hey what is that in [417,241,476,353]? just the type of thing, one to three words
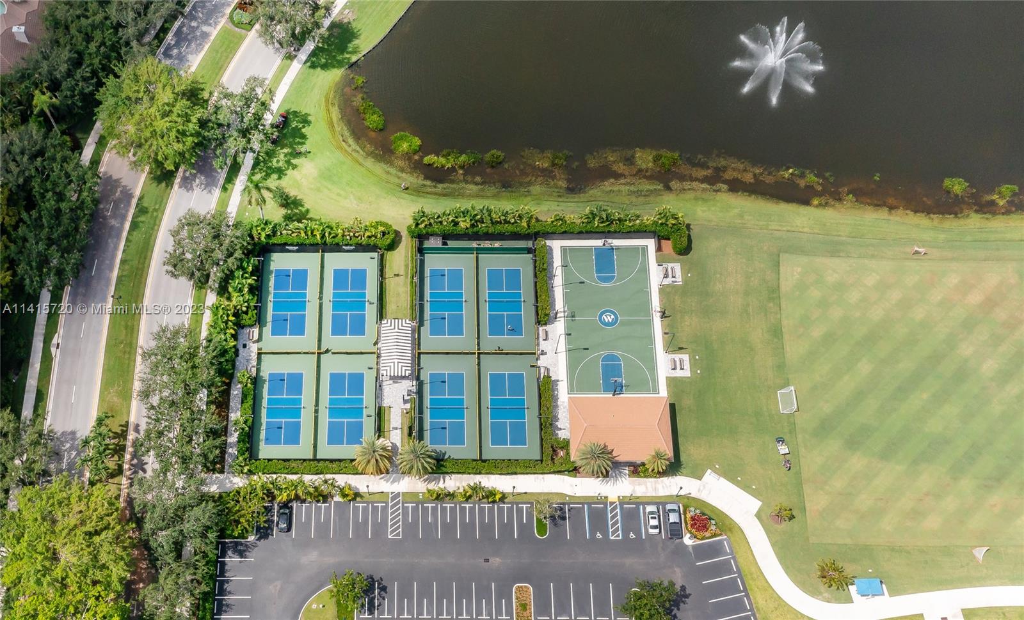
sports court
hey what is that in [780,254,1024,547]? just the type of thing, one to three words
sports field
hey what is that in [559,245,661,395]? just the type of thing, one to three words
basketball court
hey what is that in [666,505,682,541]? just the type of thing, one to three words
vehicle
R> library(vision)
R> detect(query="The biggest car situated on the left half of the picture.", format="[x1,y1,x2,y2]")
[277,506,291,535]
